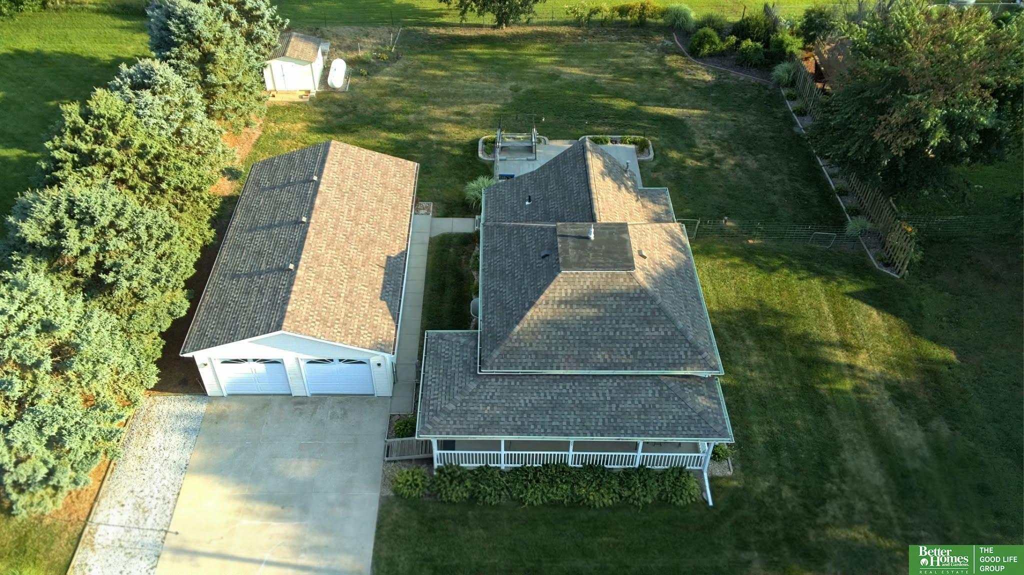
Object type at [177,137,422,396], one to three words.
building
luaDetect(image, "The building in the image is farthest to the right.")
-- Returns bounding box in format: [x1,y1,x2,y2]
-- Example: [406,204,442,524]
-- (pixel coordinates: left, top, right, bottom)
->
[413,138,737,508]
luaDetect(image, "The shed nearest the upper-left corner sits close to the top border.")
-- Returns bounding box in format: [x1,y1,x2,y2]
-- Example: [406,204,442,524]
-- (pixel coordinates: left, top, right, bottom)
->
[262,28,322,93]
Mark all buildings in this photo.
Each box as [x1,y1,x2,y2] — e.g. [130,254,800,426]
[262,28,322,93]
[177,137,422,396]
[413,138,737,508]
